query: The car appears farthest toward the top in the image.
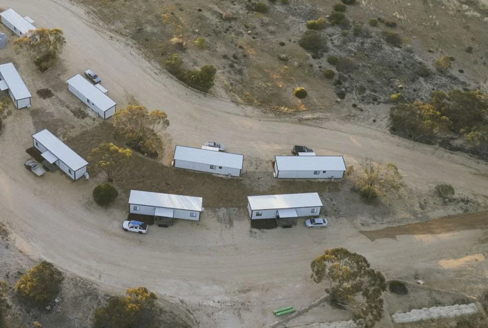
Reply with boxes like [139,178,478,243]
[85,71,100,83]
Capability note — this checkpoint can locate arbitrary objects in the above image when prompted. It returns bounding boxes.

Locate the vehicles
[85,71,100,83]
[292,145,313,156]
[205,142,225,152]
[305,218,329,229]
[122,220,148,234]
[25,161,45,176]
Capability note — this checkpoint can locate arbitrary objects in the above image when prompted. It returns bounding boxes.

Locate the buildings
[0,61,34,109]
[274,152,347,180]
[247,190,323,227]
[31,127,90,180]
[67,74,119,119]
[0,8,39,38]
[128,188,203,227]
[174,145,243,179]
